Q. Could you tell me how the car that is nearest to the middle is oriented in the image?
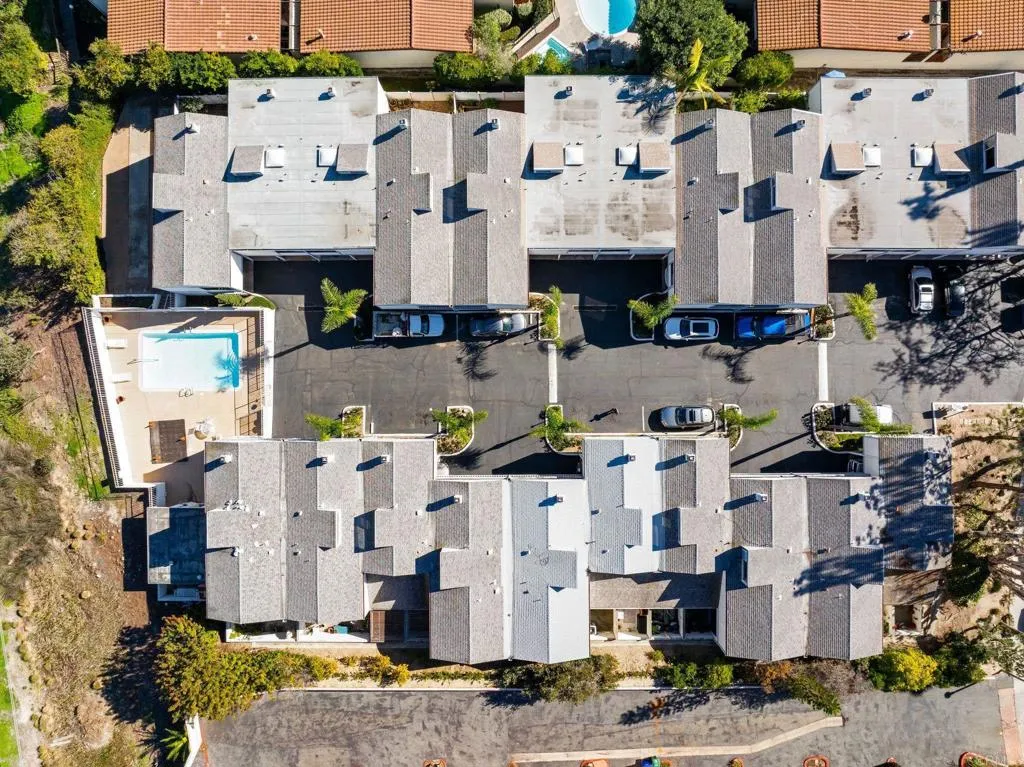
from side to side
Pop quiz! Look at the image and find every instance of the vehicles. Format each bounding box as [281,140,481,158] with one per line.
[937,270,969,325]
[656,404,716,430]
[905,264,936,317]
[735,312,812,340]
[470,312,528,338]
[372,310,444,337]
[661,315,720,341]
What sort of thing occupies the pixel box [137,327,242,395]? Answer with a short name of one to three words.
swimming pool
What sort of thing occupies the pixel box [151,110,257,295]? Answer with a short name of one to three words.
house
